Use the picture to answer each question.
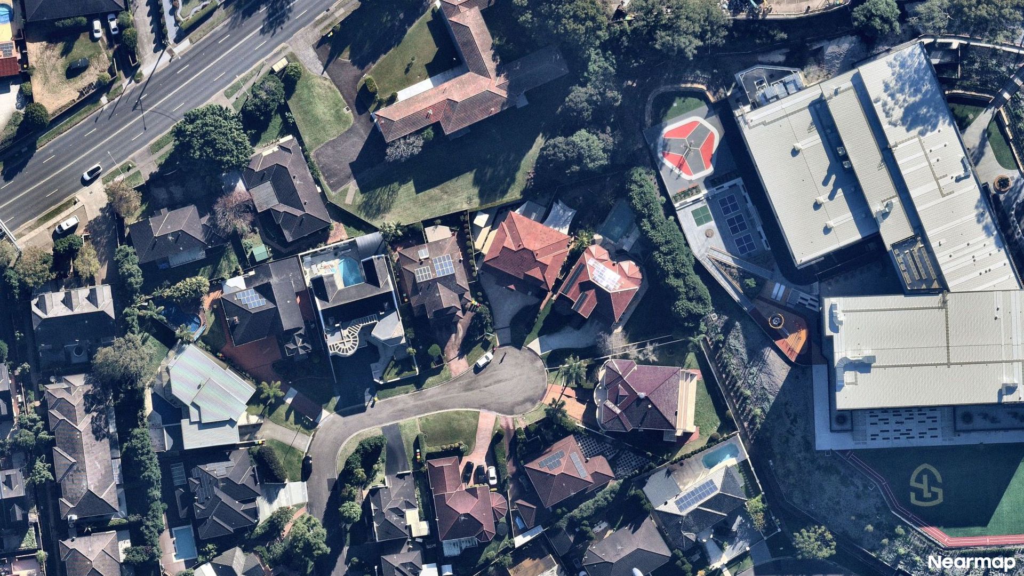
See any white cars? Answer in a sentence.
Yes, the picture does show a white car.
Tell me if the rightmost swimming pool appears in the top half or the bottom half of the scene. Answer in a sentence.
The rightmost swimming pool sits in the bottom half of the picture.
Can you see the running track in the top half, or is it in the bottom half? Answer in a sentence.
The bottom half of the photo is where the running track is.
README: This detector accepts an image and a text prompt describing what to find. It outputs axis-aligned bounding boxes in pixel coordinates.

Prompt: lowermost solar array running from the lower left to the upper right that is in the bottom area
[675,480,717,512]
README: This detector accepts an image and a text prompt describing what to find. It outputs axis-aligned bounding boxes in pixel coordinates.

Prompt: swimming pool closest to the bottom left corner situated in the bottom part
[174,526,196,561]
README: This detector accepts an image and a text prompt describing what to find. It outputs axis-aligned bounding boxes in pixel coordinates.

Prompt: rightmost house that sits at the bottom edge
[643,464,749,553]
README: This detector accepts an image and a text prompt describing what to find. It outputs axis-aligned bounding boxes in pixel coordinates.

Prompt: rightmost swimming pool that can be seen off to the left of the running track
[701,442,741,470]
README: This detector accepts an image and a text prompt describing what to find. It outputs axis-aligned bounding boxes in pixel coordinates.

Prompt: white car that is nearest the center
[474,352,494,368]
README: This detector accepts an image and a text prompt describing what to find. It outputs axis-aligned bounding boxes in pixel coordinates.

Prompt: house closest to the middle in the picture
[484,210,570,297]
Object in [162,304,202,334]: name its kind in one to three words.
swimming pool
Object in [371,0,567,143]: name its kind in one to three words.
building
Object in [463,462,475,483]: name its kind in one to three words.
vehicle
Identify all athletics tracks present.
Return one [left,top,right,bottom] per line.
[837,451,1024,547]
